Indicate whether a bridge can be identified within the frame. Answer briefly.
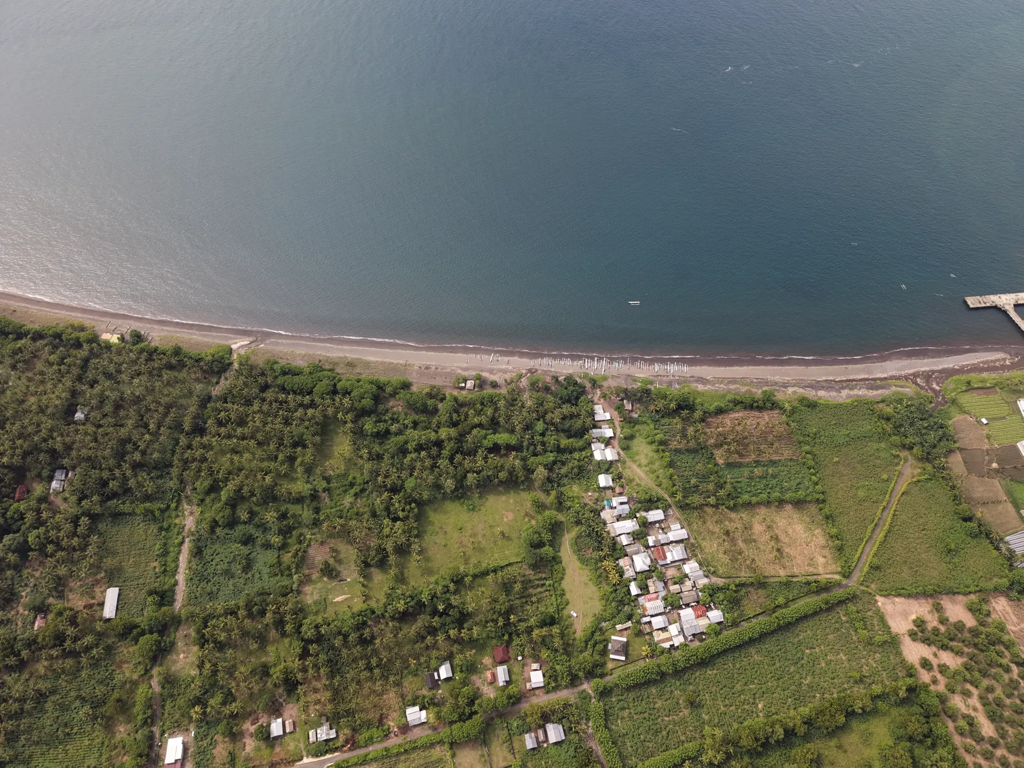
No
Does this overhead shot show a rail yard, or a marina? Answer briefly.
marina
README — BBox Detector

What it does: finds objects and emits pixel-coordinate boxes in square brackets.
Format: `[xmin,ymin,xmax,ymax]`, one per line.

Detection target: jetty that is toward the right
[964,292,1024,331]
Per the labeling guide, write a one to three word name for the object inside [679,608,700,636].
house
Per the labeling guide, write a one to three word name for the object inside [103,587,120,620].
barn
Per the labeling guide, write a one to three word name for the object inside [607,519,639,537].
house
